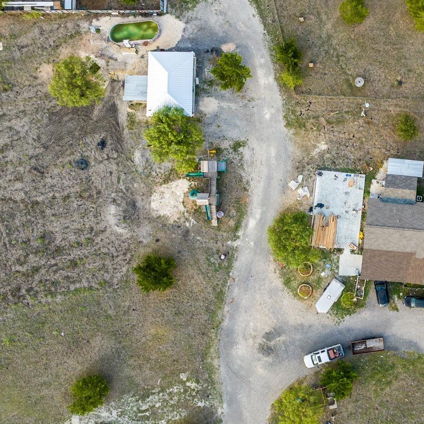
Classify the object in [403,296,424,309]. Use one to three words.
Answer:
vehicle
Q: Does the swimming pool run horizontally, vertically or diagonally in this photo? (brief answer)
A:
horizontally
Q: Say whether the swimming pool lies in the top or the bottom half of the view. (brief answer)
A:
top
